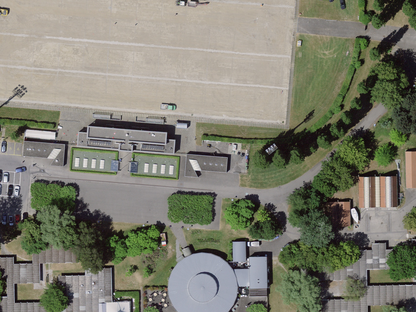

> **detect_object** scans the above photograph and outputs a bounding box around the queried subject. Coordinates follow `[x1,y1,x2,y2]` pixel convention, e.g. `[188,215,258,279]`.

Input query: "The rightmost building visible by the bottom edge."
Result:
[327,242,416,312]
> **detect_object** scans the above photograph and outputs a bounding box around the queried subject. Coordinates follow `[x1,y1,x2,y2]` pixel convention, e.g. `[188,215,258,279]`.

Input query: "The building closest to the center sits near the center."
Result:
[185,154,228,177]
